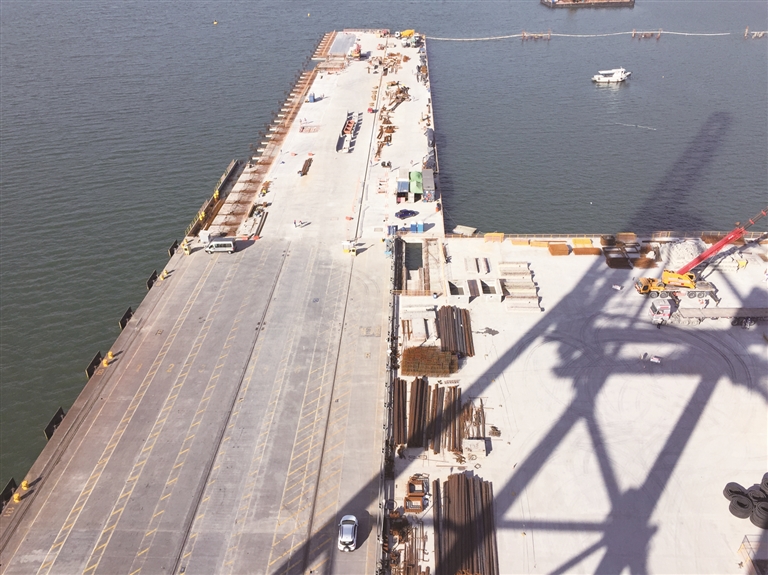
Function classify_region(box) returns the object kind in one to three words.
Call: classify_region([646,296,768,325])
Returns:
truck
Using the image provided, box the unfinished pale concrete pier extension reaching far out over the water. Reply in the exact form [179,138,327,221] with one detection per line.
[214,30,443,244]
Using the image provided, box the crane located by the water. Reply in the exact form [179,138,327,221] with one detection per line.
[631,205,768,305]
